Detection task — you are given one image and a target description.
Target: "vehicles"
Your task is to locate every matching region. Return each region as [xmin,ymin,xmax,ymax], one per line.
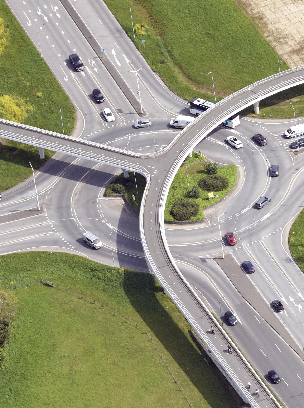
[291,137,304,149]
[241,259,256,274]
[253,195,274,208]
[270,164,280,177]
[271,299,285,313]
[224,310,237,325]
[189,96,239,128]
[225,232,236,246]
[284,123,304,139]
[102,108,115,121]
[91,86,105,102]
[70,52,84,70]
[133,118,152,129]
[170,113,199,130]
[225,135,244,149]
[83,231,102,248]
[266,369,281,384]
[252,133,270,146]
